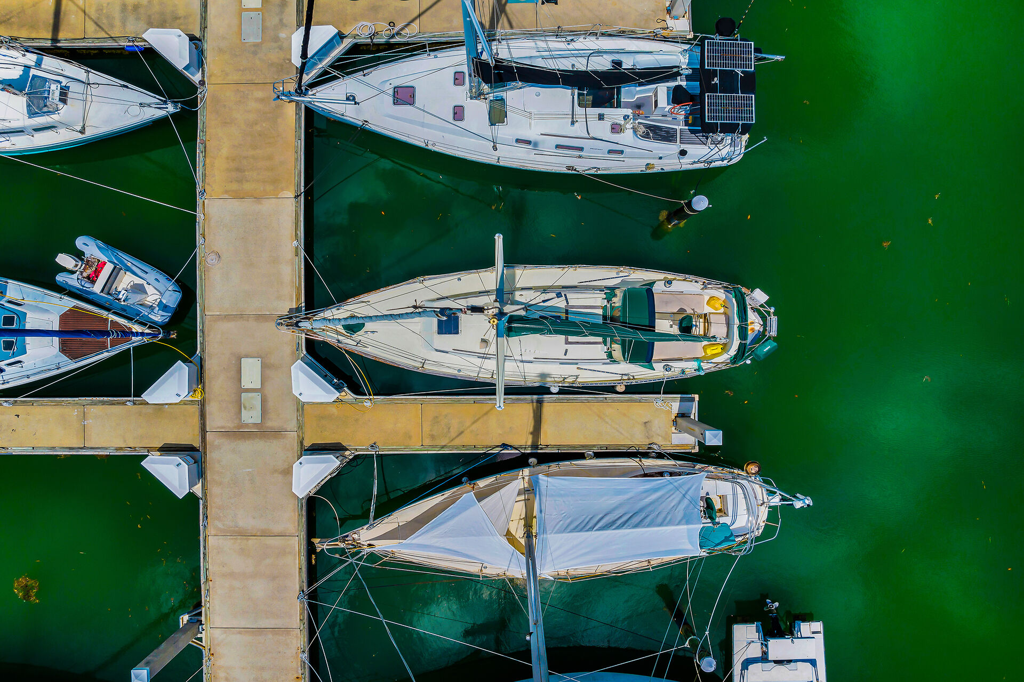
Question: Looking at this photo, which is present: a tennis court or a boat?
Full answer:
I can see a boat in this picture.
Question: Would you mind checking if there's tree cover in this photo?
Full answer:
No, the scene doesn't show any tree cover.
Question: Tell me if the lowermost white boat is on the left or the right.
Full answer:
The lowermost white boat is on the right side of the image.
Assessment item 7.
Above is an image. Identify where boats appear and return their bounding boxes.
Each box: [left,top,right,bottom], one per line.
[0,33,181,157]
[57,238,183,325]
[731,601,827,682]
[270,0,785,178]
[0,275,176,391]
[275,232,778,411]
[311,455,812,682]
[414,659,709,682]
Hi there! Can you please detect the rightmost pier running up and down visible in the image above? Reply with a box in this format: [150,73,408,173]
[180,0,314,682]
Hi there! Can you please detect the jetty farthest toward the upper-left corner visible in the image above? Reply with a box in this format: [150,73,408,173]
[0,0,200,88]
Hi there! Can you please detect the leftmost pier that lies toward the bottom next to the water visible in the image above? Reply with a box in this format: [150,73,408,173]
[0,349,201,501]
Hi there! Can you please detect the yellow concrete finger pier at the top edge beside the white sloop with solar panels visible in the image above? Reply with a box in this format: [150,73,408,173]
[304,0,693,90]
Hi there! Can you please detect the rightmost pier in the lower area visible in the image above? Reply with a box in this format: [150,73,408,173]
[303,348,699,502]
